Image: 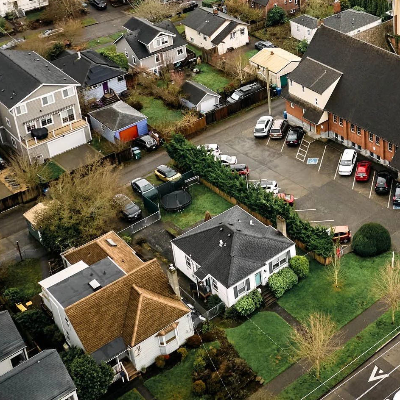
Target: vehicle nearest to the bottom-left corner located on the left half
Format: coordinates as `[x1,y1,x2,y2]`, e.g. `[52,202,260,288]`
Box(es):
[109,197,147,222]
